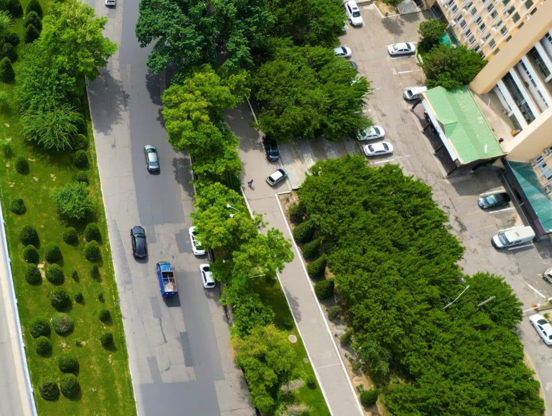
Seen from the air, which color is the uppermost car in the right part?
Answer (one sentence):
The color of the uppermost car in the right part is white.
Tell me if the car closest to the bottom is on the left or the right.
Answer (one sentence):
You can find the car closest to the bottom on the right side of the picture.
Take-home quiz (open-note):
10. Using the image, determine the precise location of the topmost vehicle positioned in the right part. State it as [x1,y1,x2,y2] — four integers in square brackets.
[343,1,363,26]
